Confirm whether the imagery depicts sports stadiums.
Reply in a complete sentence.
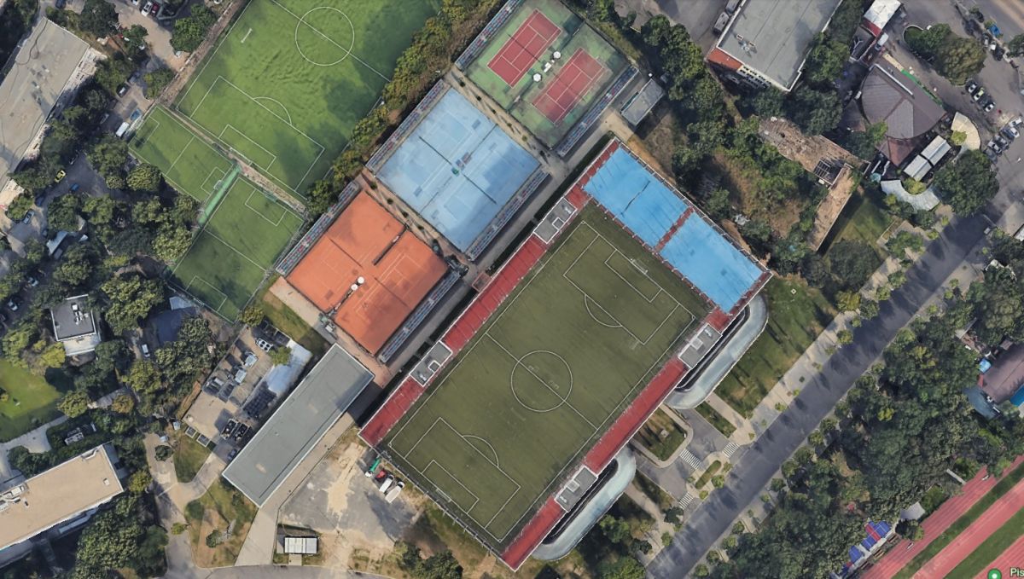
Yes, you can see a sports stadium in this photo.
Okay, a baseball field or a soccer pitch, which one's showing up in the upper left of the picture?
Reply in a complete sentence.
It is a soccer pitch that can be seen in the upper left of the picture.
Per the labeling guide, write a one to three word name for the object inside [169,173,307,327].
soccer field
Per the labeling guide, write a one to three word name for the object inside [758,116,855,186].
building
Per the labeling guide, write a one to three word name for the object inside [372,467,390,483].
vehicle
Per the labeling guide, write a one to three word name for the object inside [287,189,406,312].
tennis court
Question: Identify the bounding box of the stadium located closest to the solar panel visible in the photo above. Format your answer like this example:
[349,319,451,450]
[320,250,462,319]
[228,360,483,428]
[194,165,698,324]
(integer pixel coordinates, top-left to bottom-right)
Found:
[359,140,773,571]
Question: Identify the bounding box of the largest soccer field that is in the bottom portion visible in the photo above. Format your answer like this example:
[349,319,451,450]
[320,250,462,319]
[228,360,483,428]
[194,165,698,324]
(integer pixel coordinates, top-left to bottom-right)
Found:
[379,201,715,552]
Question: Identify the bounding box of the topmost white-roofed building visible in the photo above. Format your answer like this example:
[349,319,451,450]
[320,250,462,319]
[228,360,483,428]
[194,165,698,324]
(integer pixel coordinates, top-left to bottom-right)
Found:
[860,0,901,33]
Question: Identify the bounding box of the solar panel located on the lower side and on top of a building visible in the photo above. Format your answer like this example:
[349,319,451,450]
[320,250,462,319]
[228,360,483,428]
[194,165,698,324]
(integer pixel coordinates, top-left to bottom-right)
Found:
[244,383,276,417]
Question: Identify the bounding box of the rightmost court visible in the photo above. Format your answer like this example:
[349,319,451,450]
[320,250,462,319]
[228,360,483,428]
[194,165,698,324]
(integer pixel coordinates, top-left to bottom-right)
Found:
[661,211,762,312]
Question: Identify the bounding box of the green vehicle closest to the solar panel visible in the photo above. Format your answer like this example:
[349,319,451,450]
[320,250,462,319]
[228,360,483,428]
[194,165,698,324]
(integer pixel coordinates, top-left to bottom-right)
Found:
[366,457,381,476]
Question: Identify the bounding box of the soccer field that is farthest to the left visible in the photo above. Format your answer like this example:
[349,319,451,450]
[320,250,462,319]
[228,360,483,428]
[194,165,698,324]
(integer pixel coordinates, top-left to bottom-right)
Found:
[128,101,235,207]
